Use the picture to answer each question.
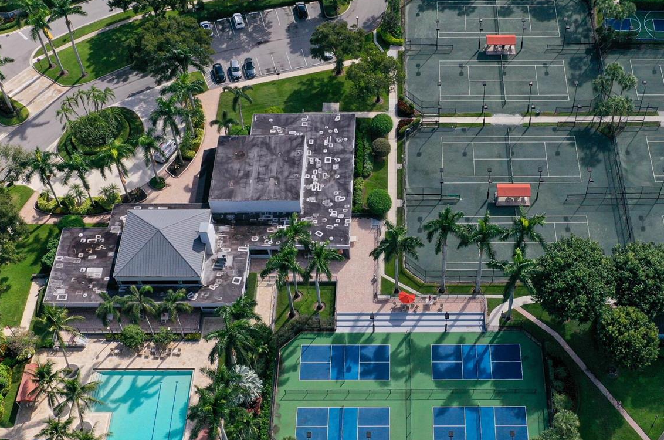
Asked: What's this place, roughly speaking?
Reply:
sports ground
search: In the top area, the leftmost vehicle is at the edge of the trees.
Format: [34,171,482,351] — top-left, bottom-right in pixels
[154,135,181,162]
